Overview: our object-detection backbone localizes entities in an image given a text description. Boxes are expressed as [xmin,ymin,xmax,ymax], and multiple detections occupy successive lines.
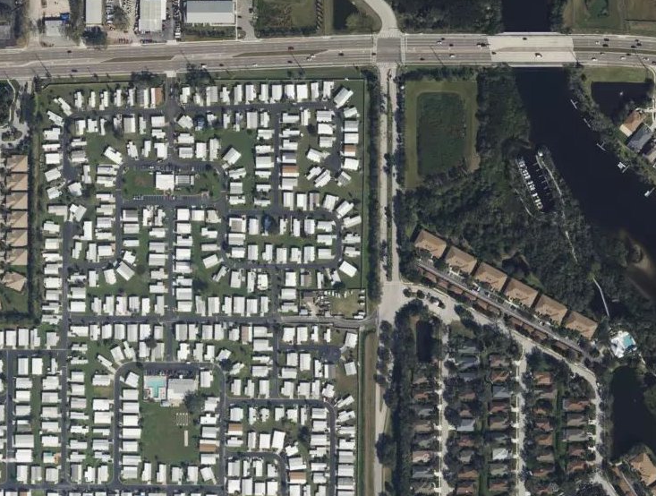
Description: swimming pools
[611,332,637,358]
[144,376,167,400]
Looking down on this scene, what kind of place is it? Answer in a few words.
residential area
